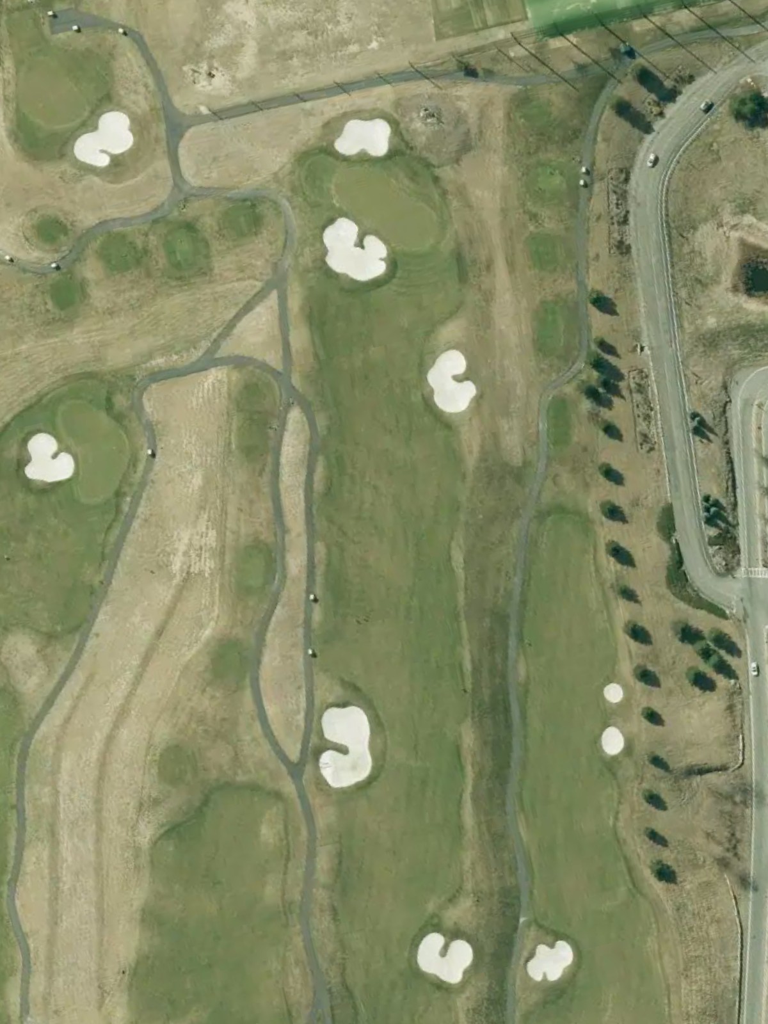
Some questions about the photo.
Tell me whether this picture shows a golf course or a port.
golf course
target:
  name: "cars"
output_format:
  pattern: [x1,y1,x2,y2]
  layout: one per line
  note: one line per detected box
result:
[751,661,758,676]
[647,153,657,168]
[698,99,712,112]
